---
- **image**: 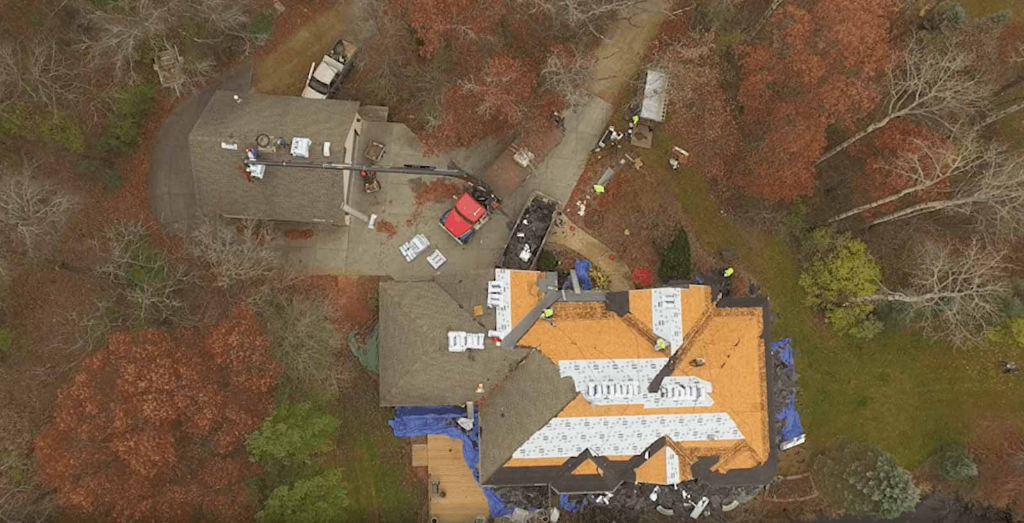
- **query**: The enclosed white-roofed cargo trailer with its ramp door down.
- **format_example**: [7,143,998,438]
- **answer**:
[634,66,667,155]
